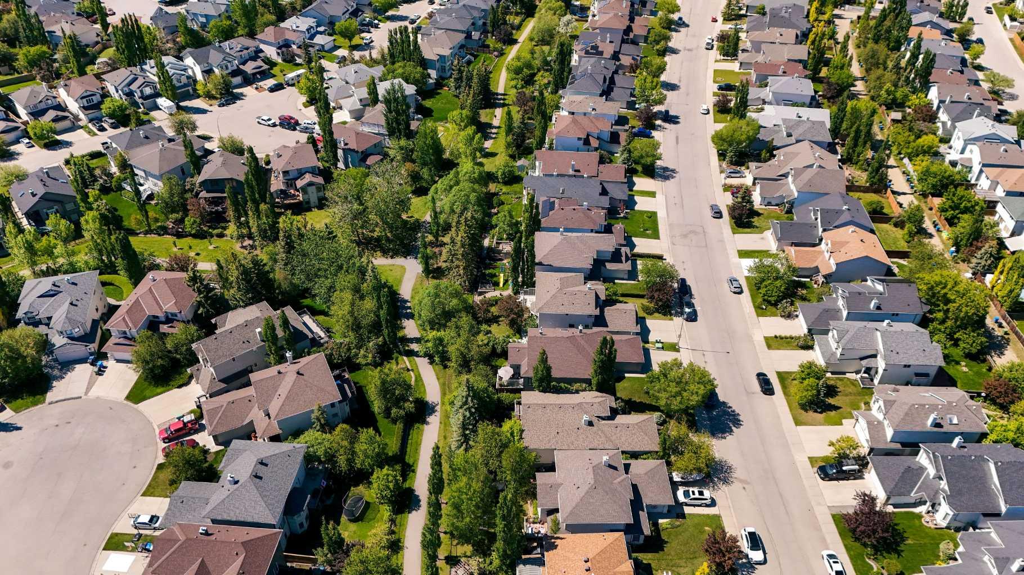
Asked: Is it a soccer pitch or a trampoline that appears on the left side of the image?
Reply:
trampoline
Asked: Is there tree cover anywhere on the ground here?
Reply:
Yes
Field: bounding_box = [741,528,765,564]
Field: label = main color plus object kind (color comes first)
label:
white car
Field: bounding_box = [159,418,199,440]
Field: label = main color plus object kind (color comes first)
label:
red truck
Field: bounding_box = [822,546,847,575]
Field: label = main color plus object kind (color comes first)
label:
white car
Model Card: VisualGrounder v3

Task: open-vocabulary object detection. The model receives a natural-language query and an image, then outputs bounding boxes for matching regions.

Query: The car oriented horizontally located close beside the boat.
[676,487,714,506]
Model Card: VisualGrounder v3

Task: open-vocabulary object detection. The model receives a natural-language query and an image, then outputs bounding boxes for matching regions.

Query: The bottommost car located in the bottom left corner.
[125,513,161,531]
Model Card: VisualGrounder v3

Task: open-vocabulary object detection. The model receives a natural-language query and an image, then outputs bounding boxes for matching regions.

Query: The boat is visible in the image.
[668,465,714,484]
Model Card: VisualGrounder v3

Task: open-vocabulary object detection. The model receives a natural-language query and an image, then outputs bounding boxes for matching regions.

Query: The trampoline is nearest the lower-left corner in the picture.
[337,487,367,520]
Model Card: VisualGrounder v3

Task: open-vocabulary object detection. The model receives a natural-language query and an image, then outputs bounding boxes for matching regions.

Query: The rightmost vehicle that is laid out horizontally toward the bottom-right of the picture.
[819,461,859,479]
